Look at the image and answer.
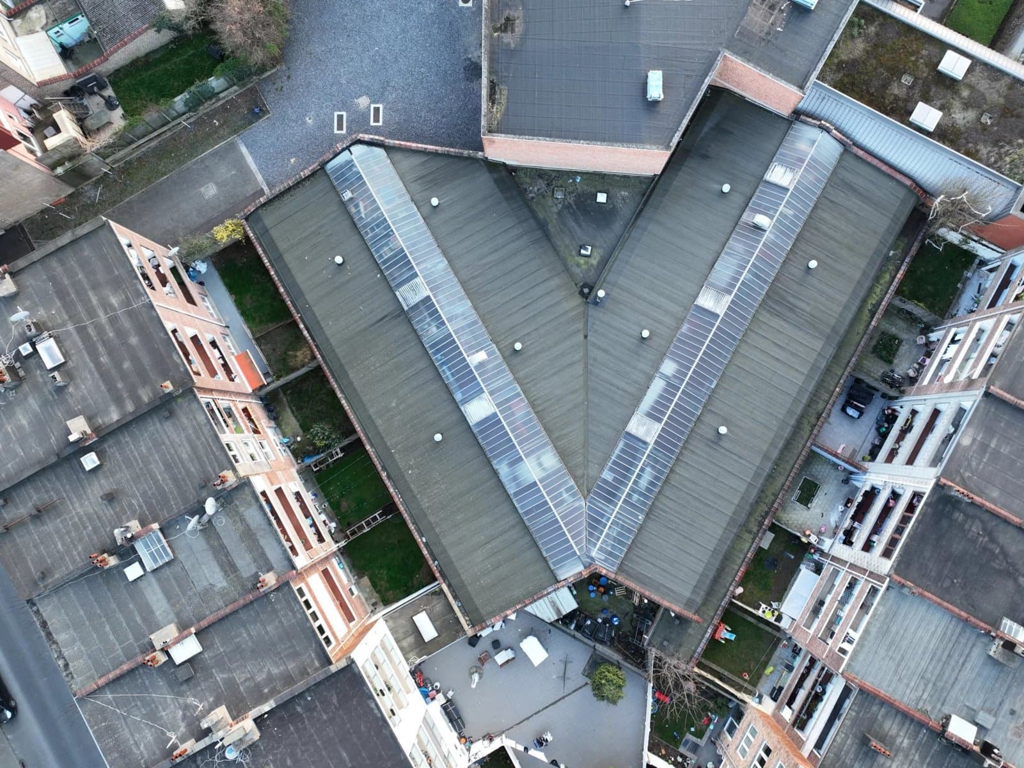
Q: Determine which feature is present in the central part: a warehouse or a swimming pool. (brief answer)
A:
warehouse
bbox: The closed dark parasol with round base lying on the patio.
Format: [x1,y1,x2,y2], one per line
[87,82,118,109]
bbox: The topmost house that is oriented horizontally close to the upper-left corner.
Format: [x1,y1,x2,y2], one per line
[0,0,186,89]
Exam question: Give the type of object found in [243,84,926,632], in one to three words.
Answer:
warehouse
